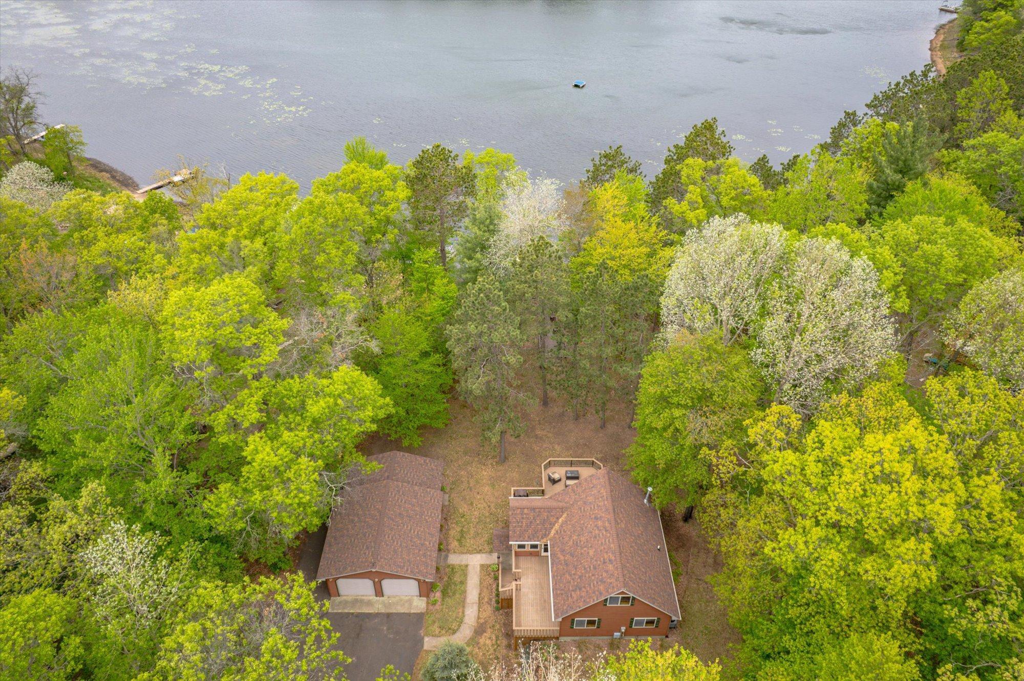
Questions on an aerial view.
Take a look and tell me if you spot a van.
No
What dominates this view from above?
trees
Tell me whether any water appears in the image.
Yes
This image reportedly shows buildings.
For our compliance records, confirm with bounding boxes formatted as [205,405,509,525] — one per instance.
[493,470,682,641]
[316,451,444,598]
